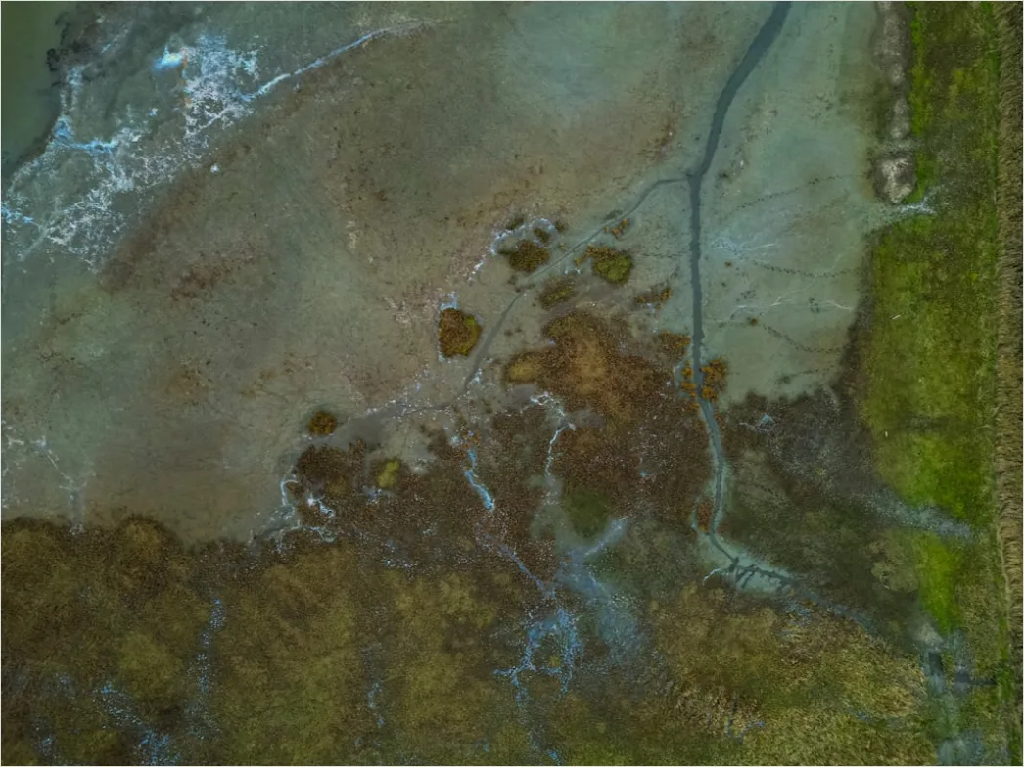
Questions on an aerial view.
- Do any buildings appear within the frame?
No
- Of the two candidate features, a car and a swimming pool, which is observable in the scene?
swimming pool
